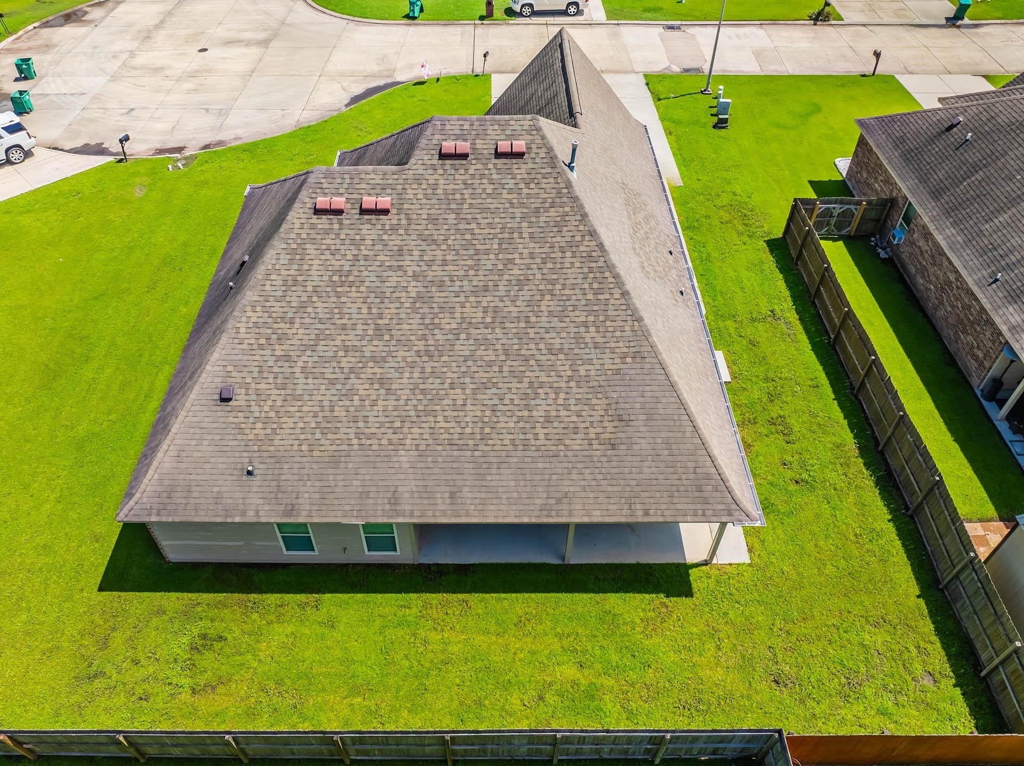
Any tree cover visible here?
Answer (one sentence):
No, there's no tree cover in this view.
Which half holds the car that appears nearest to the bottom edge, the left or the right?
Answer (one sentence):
It is on the left.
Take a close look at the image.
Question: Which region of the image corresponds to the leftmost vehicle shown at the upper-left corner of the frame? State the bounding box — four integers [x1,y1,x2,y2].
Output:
[0,109,36,164]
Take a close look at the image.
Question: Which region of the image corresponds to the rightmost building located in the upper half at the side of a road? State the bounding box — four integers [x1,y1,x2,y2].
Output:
[845,66,1024,420]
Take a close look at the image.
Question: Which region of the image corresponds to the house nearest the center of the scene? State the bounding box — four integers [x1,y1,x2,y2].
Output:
[116,26,766,563]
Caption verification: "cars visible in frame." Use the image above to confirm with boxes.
[0,109,36,164]
[508,0,593,15]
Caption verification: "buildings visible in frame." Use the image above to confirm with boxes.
[845,66,1024,420]
[116,26,766,563]
[987,516,1024,635]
